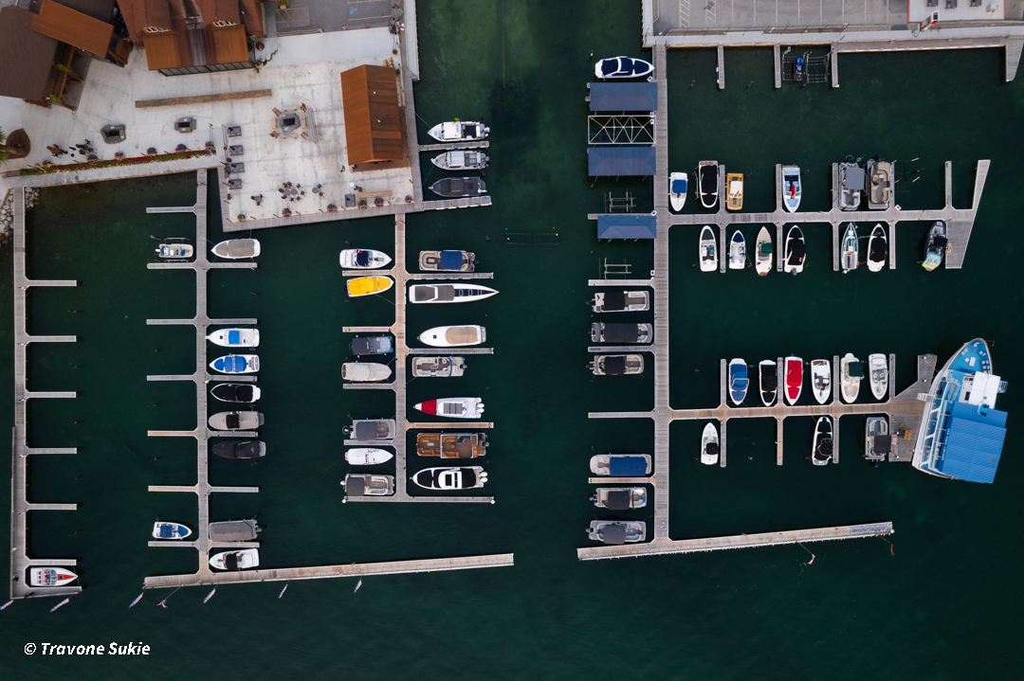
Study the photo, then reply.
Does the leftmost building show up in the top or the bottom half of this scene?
top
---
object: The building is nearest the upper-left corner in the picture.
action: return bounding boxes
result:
[0,0,136,119]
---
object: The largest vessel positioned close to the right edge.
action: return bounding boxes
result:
[915,338,1008,483]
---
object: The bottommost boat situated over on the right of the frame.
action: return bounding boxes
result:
[584,515,653,548]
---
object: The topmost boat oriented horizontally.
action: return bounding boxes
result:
[593,55,655,79]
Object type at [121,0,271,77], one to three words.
building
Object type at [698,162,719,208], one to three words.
boat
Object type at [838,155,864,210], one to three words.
boat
